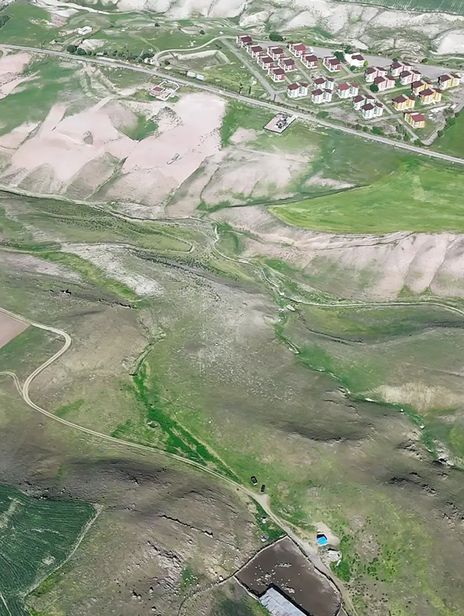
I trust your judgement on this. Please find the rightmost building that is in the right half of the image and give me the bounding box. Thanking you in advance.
[438,71,464,90]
